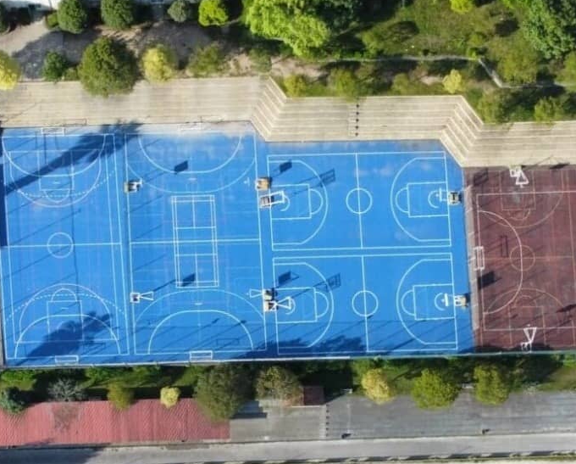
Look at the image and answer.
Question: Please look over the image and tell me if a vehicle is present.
No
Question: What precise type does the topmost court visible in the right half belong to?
basketball court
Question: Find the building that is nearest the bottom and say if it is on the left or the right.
left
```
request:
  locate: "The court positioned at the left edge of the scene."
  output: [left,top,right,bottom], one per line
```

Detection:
[0,126,132,366]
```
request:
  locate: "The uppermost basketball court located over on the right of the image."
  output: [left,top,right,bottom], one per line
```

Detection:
[262,135,468,255]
